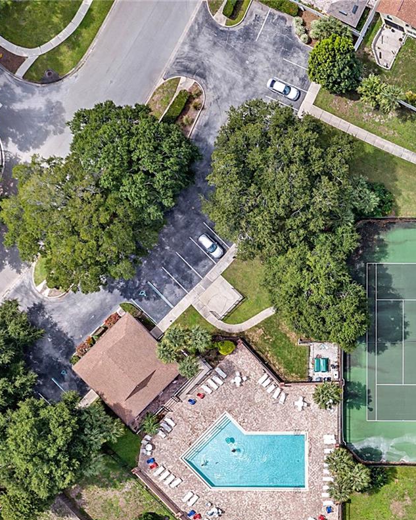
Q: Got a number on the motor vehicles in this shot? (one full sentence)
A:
Altogether the scene contains 2 motor vehicles.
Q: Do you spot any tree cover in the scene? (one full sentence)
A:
Yes, tree cover shows up in the scene.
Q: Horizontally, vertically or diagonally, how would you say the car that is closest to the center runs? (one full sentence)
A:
The car that is closest to the center has been laid out diagonally relative to the frame.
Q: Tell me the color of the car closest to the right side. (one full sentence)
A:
The car closest to the right side looks white in the image.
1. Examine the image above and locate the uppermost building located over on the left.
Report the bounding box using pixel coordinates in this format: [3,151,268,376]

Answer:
[73,314,181,426]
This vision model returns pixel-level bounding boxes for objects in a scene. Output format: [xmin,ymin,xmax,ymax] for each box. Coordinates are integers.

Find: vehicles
[268,78,300,102]
[197,233,224,259]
